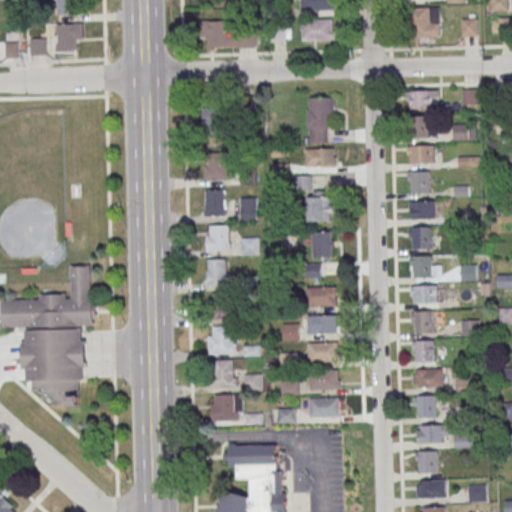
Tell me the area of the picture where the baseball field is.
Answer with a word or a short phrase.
left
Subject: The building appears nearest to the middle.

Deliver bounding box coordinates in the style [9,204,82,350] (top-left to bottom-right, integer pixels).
[240,236,260,256]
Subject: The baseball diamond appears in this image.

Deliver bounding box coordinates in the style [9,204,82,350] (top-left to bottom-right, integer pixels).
[0,198,66,267]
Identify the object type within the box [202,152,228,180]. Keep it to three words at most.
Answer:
house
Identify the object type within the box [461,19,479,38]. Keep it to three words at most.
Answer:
building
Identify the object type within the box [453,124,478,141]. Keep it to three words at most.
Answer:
building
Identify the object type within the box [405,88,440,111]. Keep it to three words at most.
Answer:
house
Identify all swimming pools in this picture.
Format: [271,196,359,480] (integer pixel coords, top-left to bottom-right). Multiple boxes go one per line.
[460,289,472,301]
[478,260,491,272]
